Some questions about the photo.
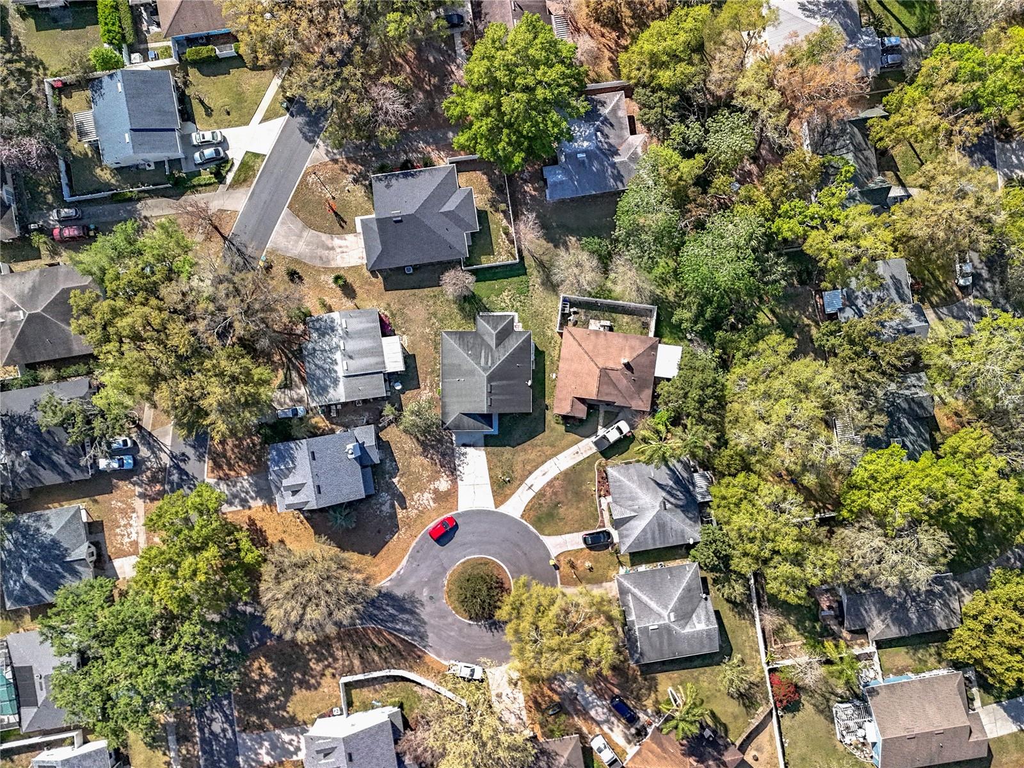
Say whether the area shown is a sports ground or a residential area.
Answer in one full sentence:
The picture captures a residential area.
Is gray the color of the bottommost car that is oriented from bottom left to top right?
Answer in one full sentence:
No, the bottommost car that is oriented from bottom left to top right is actually red.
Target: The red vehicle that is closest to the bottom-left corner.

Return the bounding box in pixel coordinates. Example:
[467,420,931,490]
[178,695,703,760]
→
[428,516,458,540]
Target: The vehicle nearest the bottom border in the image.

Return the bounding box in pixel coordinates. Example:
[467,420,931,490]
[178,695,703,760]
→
[587,731,622,768]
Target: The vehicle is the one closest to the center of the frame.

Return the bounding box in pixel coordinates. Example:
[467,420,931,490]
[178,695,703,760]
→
[590,419,633,453]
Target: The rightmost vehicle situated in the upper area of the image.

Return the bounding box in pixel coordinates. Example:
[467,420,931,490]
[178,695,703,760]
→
[954,255,974,288]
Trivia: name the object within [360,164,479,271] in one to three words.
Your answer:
house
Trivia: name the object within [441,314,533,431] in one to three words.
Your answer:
house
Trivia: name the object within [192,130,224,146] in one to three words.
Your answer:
car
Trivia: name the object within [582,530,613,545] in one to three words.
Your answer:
car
